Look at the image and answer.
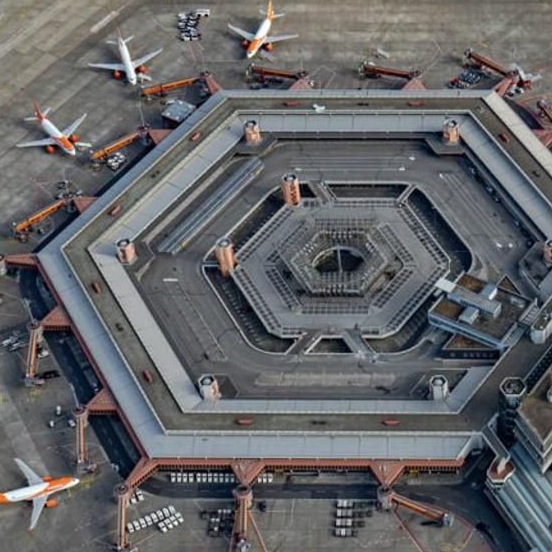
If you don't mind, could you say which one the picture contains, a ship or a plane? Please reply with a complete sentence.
This aerial view contains a plane.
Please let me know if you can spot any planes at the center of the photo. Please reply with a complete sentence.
No, there's no plane to be seen at the center of the photo.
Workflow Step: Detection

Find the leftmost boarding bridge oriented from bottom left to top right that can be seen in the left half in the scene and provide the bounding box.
[11,191,77,238]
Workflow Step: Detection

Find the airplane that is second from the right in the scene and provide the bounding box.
[89,29,159,84]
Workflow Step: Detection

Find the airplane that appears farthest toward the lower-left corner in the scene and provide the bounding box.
[0,455,79,526]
